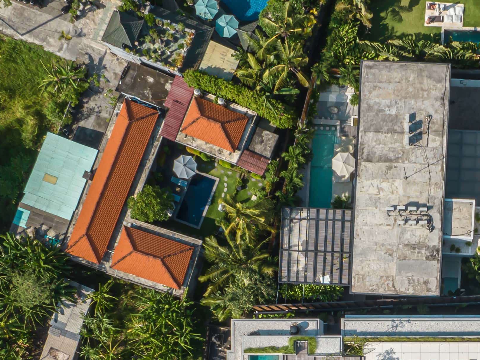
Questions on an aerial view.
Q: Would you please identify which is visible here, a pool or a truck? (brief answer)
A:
pool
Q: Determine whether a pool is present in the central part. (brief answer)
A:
Yes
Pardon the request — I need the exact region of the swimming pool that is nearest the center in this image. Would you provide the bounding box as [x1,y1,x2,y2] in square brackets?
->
[169,172,222,232]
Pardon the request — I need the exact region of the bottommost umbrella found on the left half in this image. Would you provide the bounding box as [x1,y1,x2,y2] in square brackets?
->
[174,155,197,178]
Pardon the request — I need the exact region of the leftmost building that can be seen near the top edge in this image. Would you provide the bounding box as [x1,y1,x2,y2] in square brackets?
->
[101,9,144,48]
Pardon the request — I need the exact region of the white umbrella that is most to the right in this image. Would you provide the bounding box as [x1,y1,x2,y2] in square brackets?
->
[333,153,355,176]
